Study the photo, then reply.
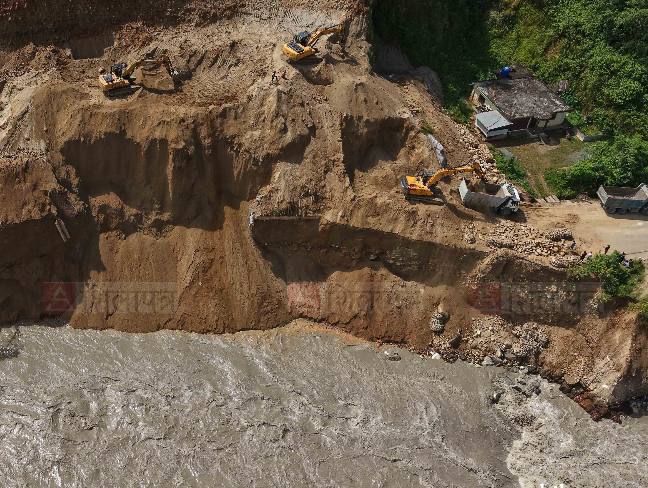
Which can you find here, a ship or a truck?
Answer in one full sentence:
It is a truck that can be seen here.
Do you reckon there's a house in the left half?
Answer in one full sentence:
No, no house appears in the left half.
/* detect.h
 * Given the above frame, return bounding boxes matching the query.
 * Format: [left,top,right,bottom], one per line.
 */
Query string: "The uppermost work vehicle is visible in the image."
[284,22,346,65]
